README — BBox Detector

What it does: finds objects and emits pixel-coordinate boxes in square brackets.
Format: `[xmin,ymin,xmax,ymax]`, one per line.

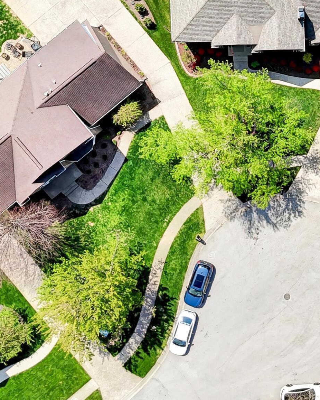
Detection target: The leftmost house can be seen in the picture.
[0,19,144,213]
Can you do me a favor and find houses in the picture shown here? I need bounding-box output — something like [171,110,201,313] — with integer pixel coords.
[170,0,320,59]
[0,19,144,213]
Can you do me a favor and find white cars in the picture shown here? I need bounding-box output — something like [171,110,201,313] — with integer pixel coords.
[281,384,320,400]
[169,309,197,358]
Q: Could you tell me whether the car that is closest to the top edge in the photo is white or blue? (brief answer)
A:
blue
